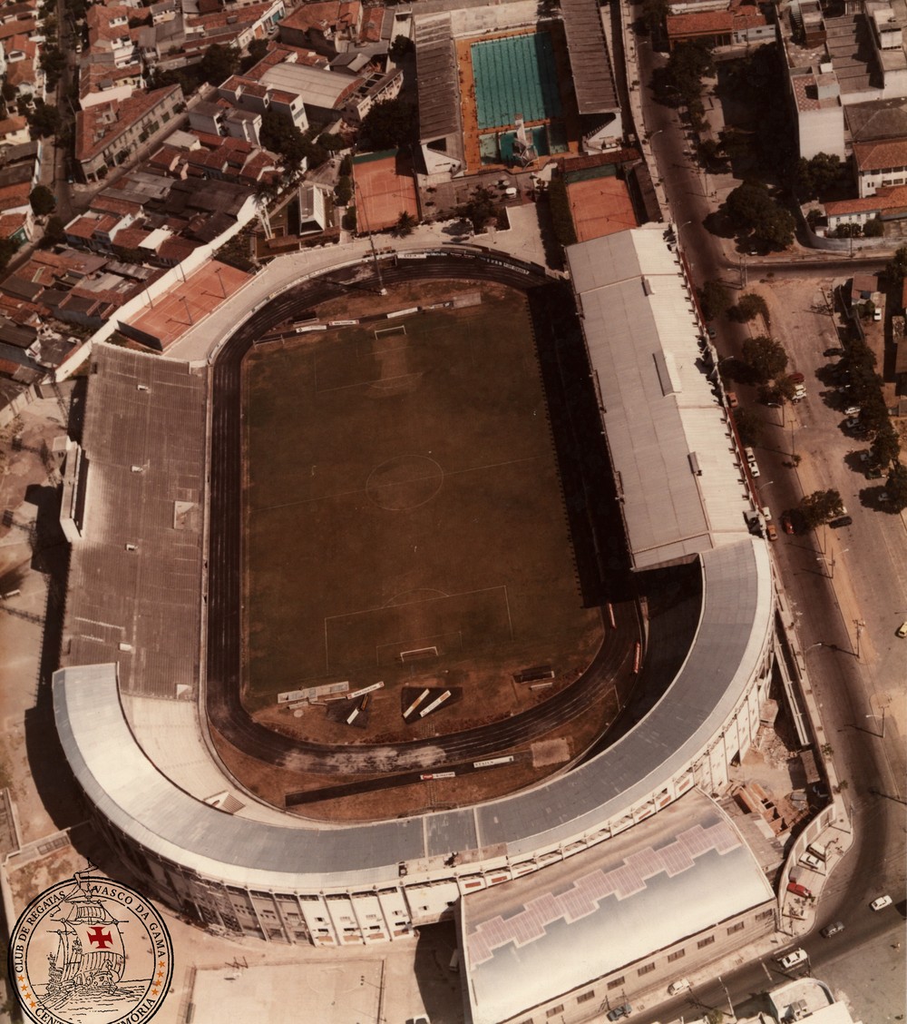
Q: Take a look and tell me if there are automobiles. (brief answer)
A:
Yes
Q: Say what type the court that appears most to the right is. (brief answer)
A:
tennis court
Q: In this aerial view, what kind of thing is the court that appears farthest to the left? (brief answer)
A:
tennis court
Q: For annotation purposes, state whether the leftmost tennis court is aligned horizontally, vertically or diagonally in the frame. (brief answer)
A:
diagonally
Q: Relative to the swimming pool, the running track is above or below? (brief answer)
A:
below it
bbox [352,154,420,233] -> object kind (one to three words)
tennis court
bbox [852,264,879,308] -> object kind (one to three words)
shed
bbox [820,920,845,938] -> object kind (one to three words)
car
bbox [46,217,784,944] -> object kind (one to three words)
stadium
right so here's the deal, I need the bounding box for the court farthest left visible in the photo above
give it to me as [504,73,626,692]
[129,261,253,348]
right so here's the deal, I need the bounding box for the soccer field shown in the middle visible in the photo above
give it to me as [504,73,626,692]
[243,268,590,747]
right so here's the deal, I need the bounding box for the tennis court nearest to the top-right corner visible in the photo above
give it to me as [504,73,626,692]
[568,177,636,240]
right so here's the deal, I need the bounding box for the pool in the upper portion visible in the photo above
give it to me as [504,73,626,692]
[453,19,587,169]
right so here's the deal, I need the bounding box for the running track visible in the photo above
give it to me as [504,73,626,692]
[209,248,625,778]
